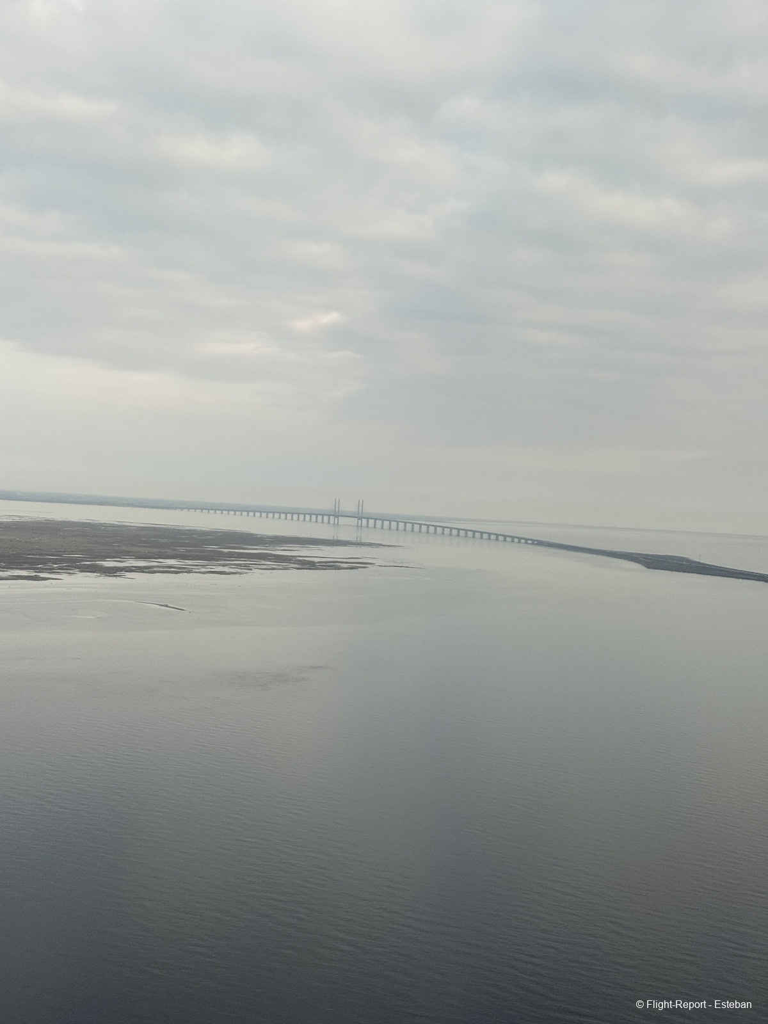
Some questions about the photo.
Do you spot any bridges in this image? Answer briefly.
Yes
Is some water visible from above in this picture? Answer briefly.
Yes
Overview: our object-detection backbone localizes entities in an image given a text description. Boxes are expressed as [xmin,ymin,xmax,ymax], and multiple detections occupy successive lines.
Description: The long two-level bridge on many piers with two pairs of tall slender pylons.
[168,499,548,544]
